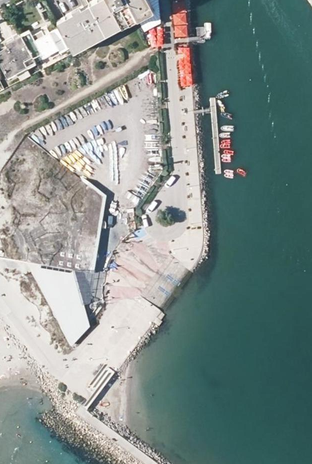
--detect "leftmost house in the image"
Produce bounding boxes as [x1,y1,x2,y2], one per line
[0,36,33,76]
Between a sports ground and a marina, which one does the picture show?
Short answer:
marina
